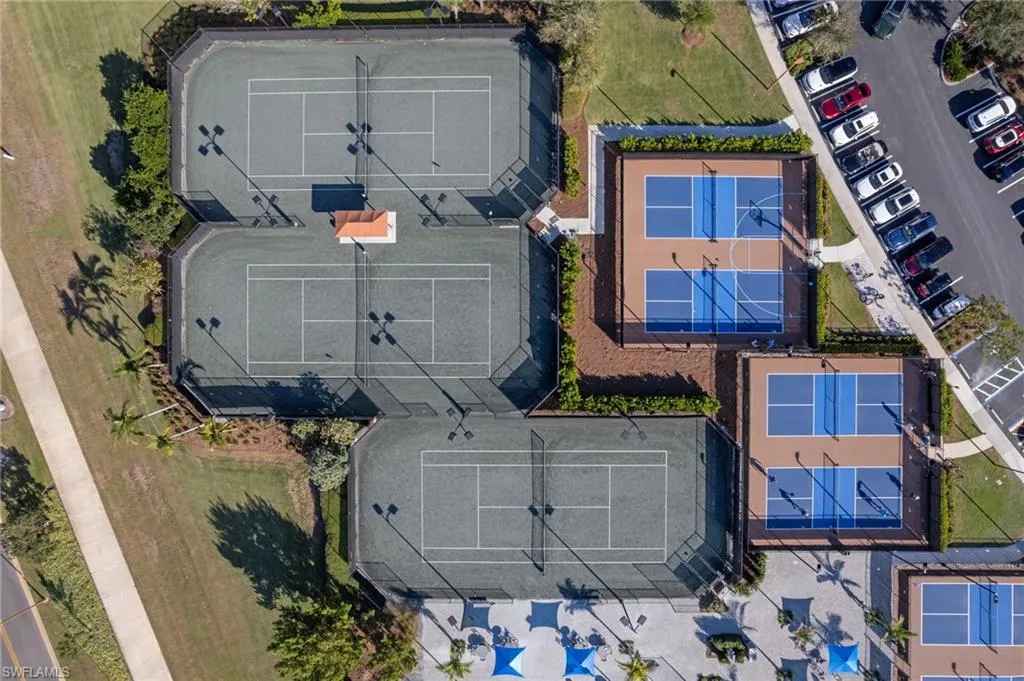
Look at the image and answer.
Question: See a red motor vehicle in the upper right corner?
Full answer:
Yes, you'll find a red motor vehicle in the upper right corner.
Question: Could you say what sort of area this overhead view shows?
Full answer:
This image shows a sports ground.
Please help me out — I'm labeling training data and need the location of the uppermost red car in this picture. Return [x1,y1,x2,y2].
[820,83,872,119]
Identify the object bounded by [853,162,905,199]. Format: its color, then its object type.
white car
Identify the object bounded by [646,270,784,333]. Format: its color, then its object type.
blue sports court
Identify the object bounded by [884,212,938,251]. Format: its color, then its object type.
blue car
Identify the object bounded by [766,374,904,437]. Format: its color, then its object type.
blue sports court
